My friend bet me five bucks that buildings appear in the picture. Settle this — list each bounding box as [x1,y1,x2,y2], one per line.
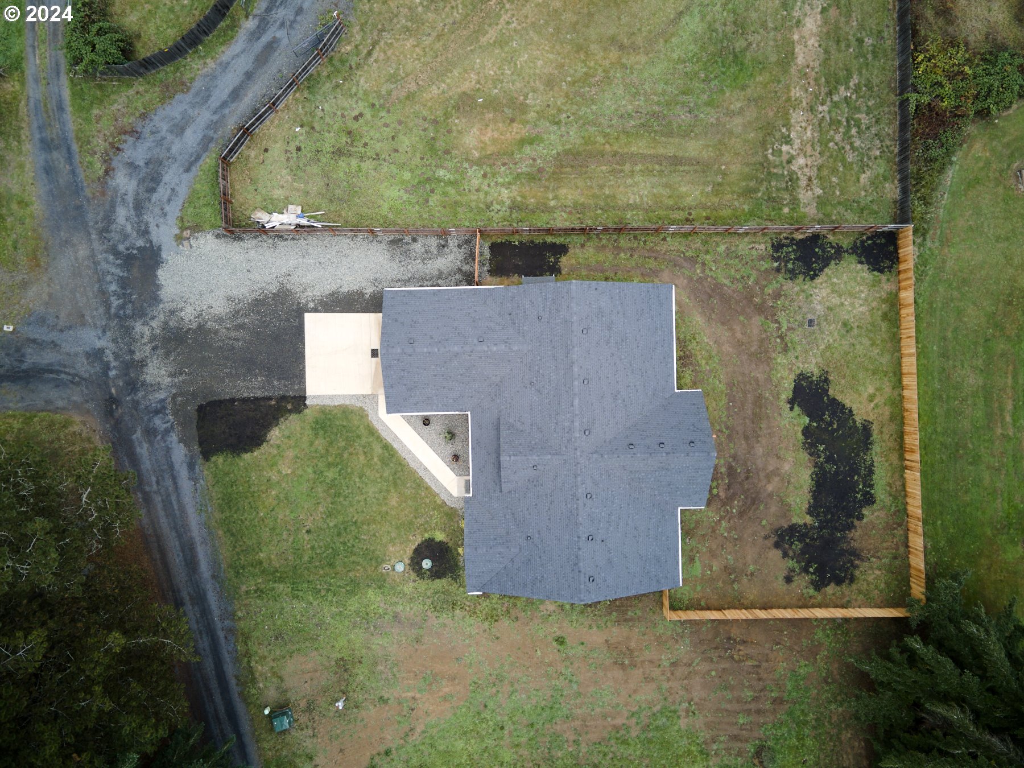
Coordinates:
[380,276,715,603]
